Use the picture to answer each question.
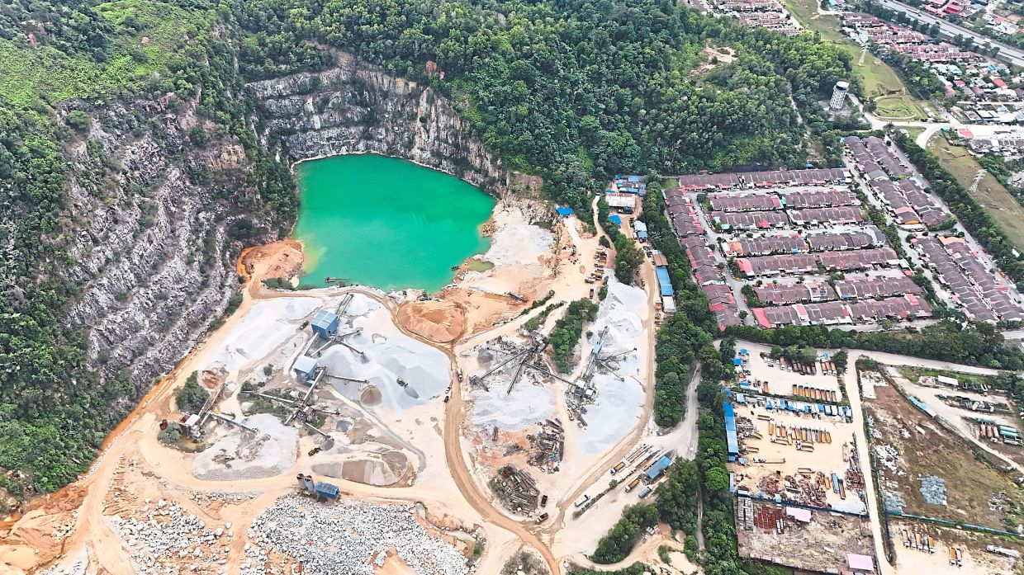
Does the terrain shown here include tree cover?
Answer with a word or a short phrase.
Yes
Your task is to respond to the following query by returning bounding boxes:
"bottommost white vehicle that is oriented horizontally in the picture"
[985,545,1017,557]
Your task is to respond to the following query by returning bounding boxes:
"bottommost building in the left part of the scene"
[312,484,338,503]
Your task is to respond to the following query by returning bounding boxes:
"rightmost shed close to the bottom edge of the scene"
[843,554,874,573]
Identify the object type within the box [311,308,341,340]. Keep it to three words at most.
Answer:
house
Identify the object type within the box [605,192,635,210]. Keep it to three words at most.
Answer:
shed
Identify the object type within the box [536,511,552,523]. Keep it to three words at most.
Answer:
vehicle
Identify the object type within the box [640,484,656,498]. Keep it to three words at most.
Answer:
vehicle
